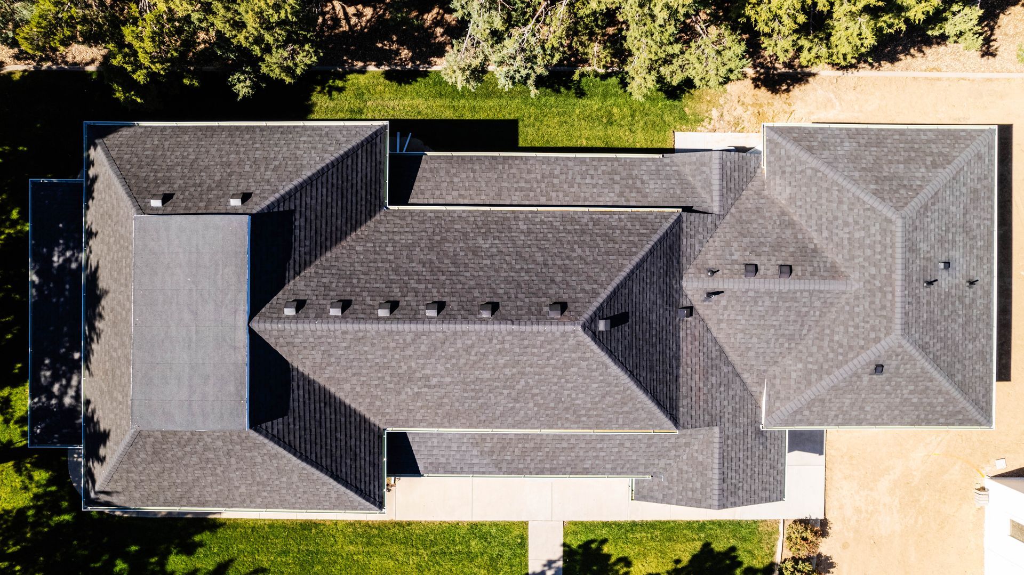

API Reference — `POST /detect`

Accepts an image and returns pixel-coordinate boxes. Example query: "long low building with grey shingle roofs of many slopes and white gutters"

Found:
[28,121,996,513]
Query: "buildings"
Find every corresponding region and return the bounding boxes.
[28,121,996,513]
[969,476,1024,575]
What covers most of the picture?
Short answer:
buildings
